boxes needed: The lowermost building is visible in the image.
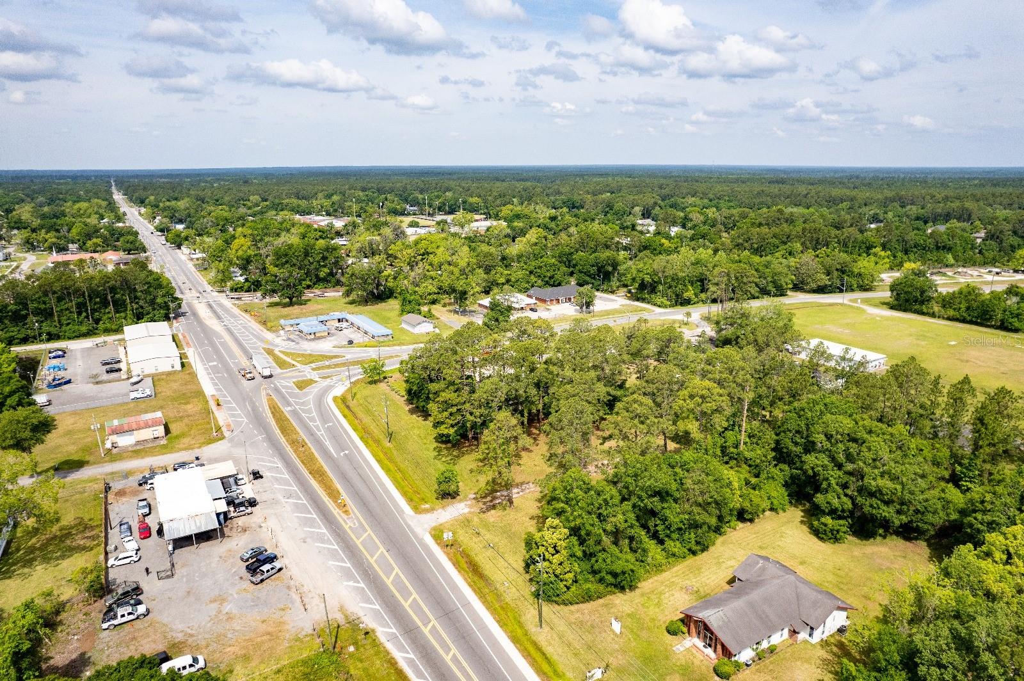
[673,553,860,670]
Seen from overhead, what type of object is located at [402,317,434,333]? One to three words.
shed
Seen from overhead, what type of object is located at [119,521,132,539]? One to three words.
vehicle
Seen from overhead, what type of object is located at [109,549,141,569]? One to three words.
car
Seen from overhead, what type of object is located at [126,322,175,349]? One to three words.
building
